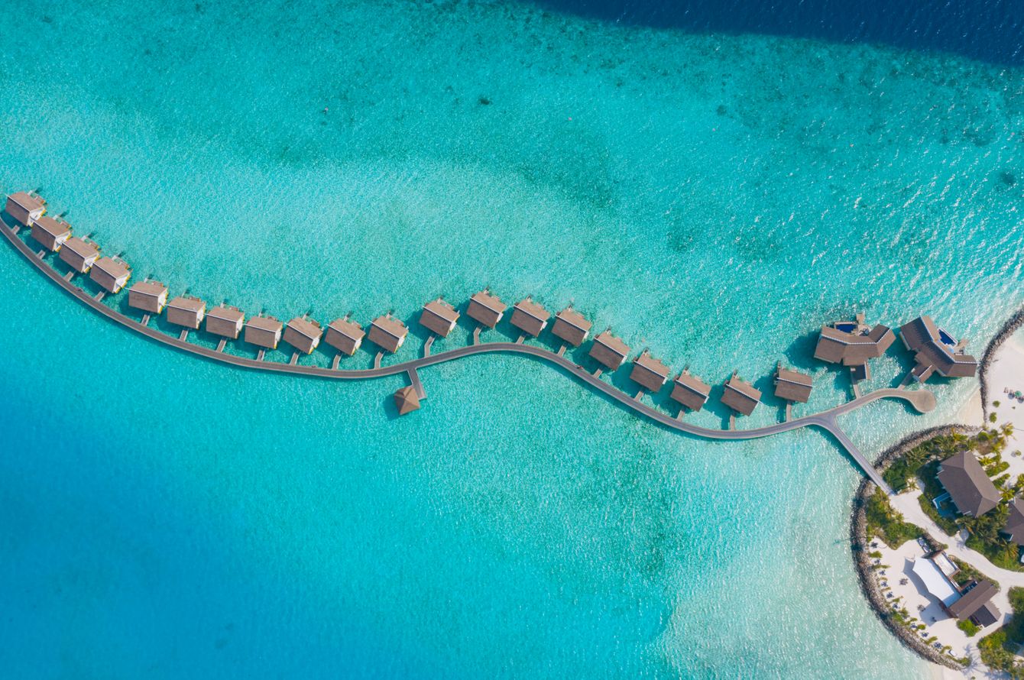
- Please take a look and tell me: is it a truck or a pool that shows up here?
pool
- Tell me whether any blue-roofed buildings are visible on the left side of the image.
No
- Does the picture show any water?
Yes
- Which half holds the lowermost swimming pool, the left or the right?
right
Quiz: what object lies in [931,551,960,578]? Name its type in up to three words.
building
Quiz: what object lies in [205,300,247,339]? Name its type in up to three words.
house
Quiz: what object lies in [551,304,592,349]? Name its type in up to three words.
house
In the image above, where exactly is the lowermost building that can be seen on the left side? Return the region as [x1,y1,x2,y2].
[394,387,420,415]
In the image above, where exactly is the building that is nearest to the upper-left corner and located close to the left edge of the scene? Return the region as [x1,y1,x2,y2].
[5,189,49,227]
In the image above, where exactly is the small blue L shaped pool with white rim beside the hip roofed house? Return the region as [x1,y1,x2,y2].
[935,493,964,519]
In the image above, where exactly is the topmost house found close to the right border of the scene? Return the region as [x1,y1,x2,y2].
[935,451,1001,517]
